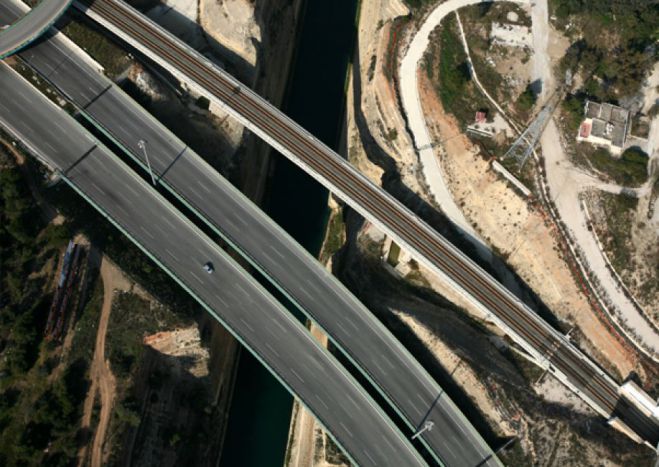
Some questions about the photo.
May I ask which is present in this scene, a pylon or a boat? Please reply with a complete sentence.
I can see a pylon in this picture.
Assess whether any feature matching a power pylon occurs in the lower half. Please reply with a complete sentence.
No, no power pylon is visible in the lower half.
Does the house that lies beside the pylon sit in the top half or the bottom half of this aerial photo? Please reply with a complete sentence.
The house that lies beside the pylon is in the top half of the image.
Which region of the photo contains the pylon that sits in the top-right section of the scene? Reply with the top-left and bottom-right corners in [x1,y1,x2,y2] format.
[500,85,565,170]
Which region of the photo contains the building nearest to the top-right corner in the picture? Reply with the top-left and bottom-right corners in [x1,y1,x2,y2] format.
[575,100,631,161]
